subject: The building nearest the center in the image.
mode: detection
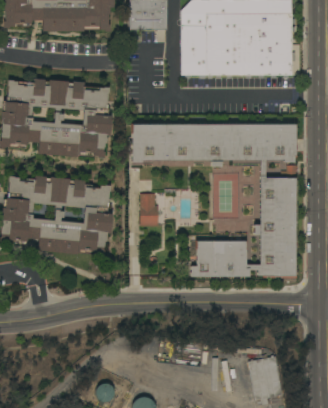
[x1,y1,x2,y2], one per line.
[140,193,158,226]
